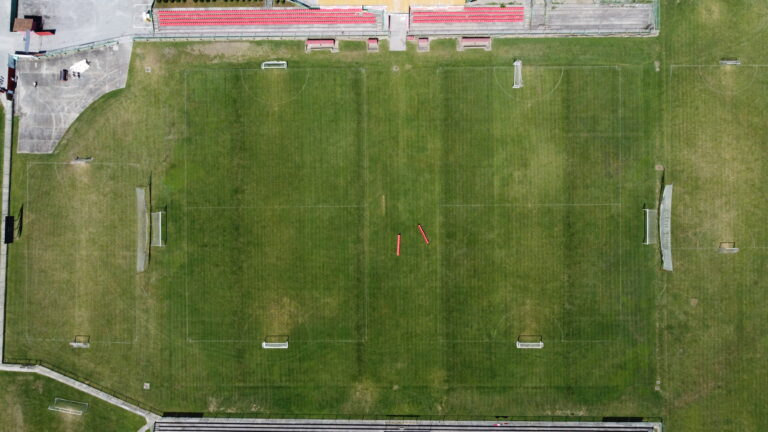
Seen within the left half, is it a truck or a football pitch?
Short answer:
football pitch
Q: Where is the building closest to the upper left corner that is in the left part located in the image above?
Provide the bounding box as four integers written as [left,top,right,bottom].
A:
[12,18,42,37]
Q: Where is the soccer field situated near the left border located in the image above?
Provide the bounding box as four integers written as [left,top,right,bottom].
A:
[27,163,137,344]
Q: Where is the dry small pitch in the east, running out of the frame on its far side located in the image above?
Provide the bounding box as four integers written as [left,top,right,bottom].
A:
[671,65,768,249]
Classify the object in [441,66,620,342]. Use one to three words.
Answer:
soccer field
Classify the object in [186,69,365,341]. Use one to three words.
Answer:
soccer field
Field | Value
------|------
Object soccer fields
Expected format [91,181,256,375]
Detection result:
[27,163,137,344]
[166,68,646,387]
[671,65,768,249]
[441,66,620,342]
[186,69,365,341]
